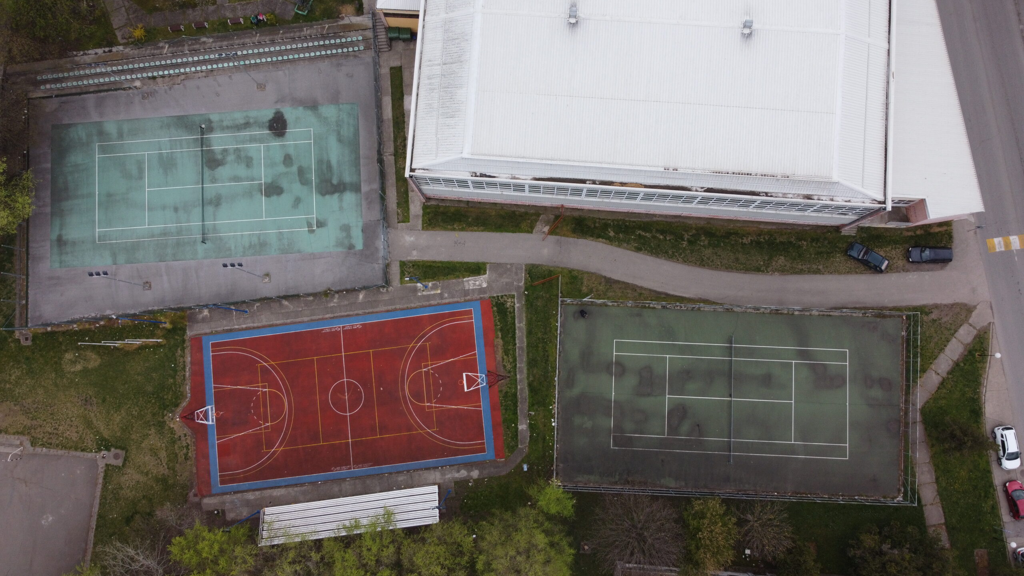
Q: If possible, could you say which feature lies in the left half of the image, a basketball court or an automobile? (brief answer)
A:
basketball court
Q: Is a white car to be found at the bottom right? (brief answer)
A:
Yes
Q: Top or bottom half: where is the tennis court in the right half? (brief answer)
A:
bottom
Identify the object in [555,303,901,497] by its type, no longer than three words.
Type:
tennis court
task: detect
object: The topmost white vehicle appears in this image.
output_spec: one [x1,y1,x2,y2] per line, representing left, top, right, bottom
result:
[990,423,1022,471]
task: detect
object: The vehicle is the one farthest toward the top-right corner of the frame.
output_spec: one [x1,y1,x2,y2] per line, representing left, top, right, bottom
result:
[904,245,954,267]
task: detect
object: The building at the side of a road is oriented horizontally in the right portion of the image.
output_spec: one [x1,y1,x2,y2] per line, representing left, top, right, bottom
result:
[406,0,896,235]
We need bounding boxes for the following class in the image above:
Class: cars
[1001,478,1024,525]
[1011,546,1024,576]
[990,423,1022,471]
[843,241,891,276]
[904,245,954,267]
